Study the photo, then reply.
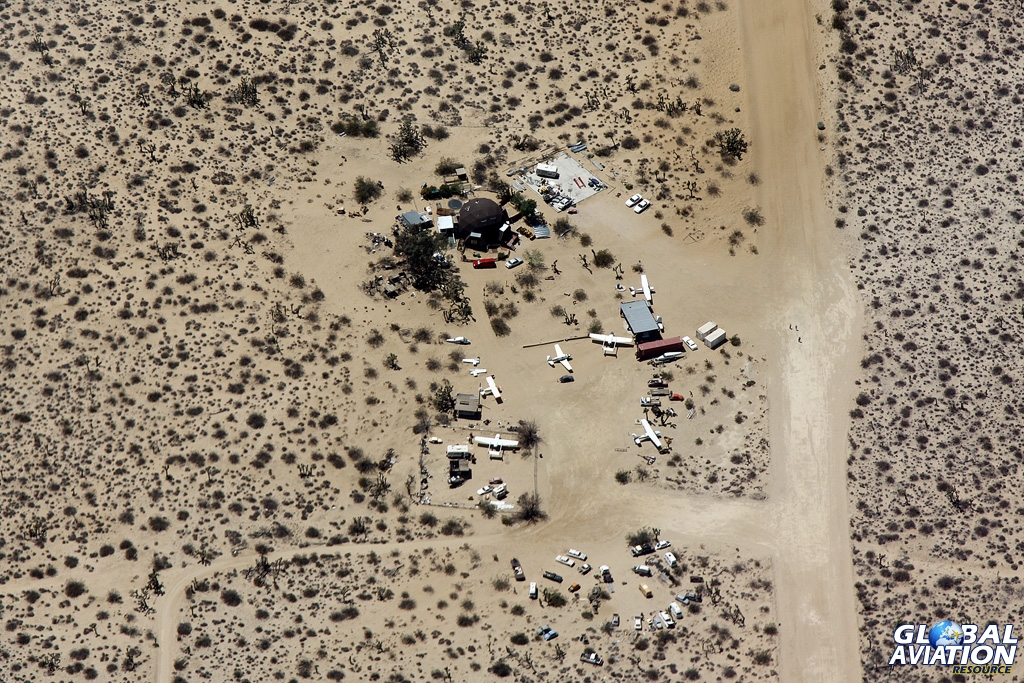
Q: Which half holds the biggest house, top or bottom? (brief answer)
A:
top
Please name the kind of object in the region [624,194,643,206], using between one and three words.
vehicle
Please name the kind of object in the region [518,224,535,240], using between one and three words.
work vehicle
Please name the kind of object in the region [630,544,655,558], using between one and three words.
vehicle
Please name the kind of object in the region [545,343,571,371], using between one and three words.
airplane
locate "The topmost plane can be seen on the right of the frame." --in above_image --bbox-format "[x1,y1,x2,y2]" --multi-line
[626,274,654,302]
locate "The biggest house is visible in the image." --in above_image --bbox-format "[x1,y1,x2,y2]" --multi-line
[457,197,510,247]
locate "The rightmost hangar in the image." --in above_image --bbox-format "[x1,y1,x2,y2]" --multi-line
[621,300,659,340]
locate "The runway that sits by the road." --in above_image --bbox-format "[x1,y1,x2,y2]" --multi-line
[737,0,866,683]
